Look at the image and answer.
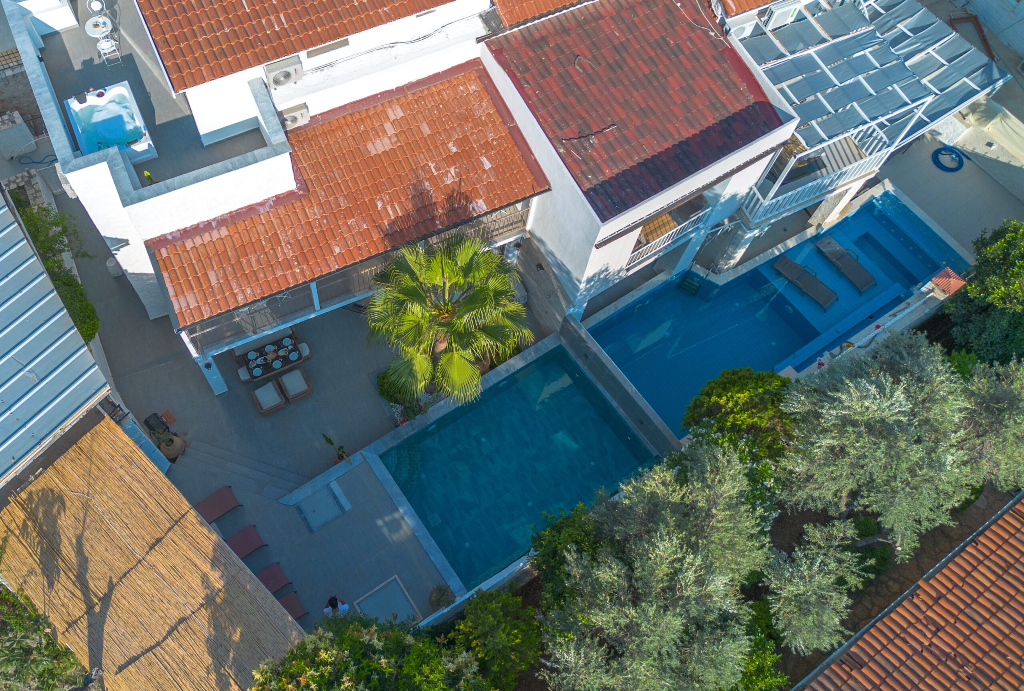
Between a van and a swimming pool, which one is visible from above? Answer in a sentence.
I can see a swimming pool in this picture.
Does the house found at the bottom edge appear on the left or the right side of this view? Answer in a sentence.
It is on the right.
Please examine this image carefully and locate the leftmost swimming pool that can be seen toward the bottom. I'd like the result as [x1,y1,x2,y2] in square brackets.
[361,333,660,595]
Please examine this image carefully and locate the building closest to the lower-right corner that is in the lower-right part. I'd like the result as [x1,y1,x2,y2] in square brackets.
[792,483,1024,691]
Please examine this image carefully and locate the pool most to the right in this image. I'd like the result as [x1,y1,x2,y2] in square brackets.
[579,178,978,473]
